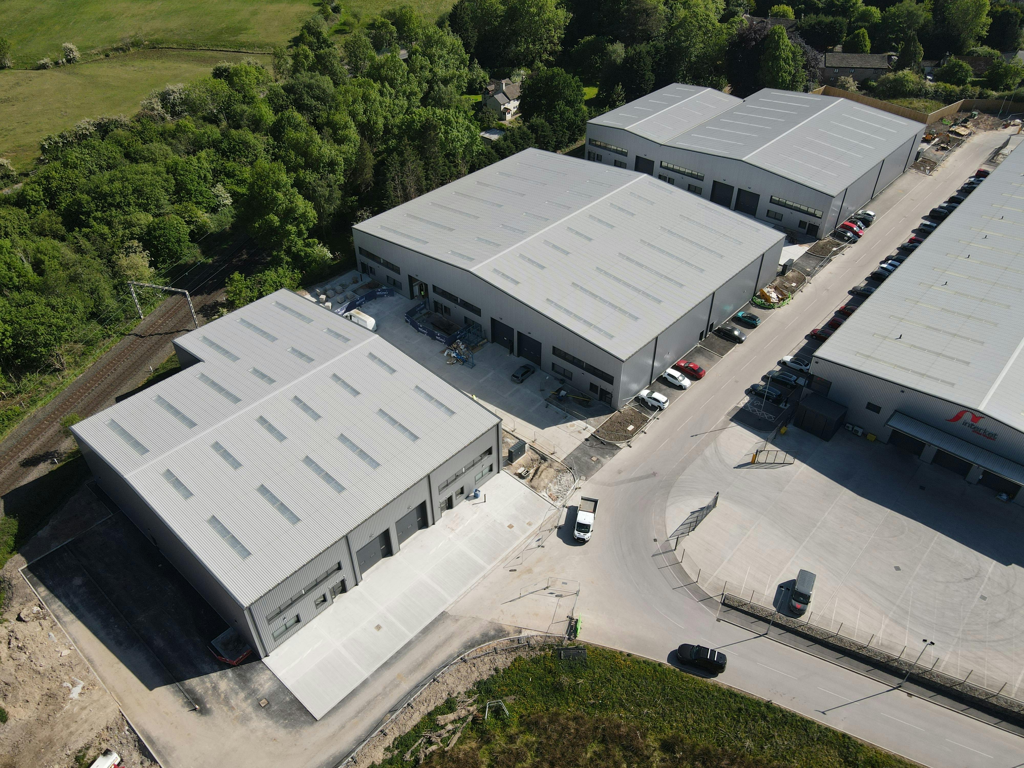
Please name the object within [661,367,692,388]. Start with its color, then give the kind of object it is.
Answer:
white car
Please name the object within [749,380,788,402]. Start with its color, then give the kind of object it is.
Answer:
black car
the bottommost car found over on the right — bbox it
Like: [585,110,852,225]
[676,647,729,680]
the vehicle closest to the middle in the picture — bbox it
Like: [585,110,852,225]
[509,365,535,385]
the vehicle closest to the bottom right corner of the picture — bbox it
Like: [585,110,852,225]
[787,566,817,616]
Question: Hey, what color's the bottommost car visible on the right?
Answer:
black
